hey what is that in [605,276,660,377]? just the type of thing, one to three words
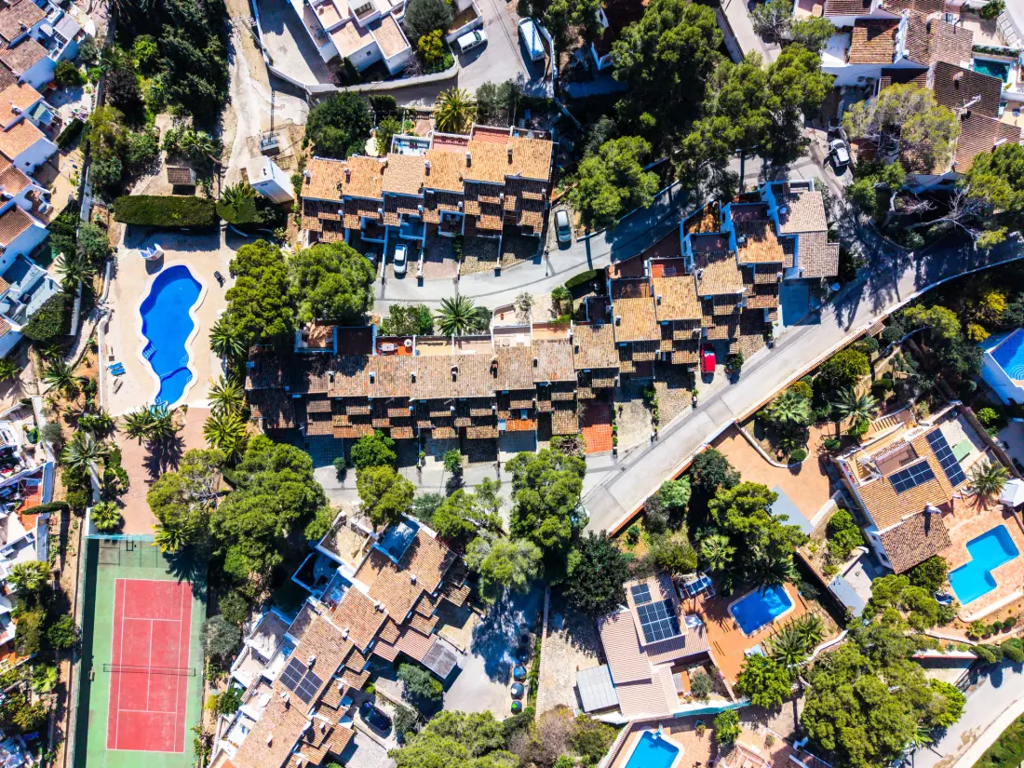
house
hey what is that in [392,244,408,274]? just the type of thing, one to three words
car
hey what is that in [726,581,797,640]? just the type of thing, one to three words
swimming pool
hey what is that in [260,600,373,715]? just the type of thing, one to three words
house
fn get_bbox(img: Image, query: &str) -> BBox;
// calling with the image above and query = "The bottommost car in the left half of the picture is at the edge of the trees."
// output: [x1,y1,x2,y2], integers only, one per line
[360,700,390,732]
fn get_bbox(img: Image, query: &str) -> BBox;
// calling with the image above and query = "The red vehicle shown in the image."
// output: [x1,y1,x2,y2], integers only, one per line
[700,344,716,375]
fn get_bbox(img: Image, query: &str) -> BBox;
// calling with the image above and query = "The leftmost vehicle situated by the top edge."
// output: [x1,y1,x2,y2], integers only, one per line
[455,28,490,52]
